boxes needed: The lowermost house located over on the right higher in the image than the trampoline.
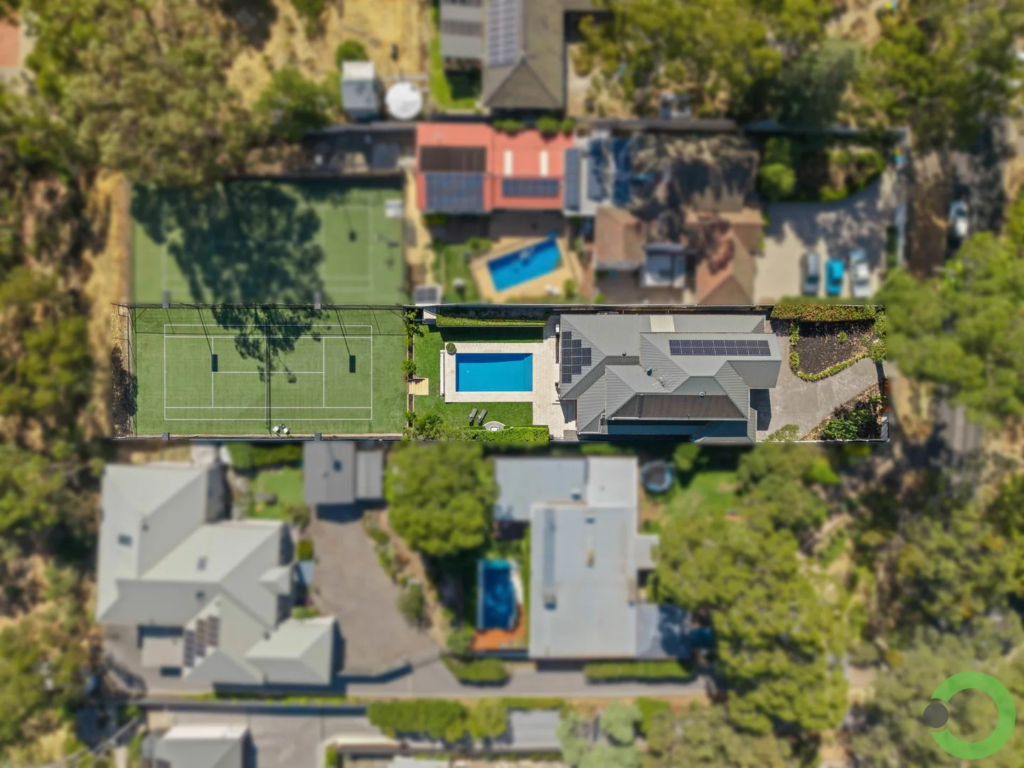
[555,314,782,445]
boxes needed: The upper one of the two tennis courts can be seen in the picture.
[132,179,404,305]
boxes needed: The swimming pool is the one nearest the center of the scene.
[453,350,536,395]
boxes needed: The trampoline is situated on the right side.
[641,462,674,492]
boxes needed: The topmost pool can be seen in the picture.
[484,234,565,295]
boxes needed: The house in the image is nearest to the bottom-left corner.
[156,720,252,768]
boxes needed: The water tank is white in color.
[386,82,426,126]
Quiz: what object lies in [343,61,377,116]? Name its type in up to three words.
shed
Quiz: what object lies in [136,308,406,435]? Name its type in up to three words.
tennis court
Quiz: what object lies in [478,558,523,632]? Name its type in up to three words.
swimming pool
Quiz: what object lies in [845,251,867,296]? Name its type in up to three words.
car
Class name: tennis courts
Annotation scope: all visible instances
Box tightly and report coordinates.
[132,179,404,305]
[136,308,406,435]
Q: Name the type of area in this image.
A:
residential area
